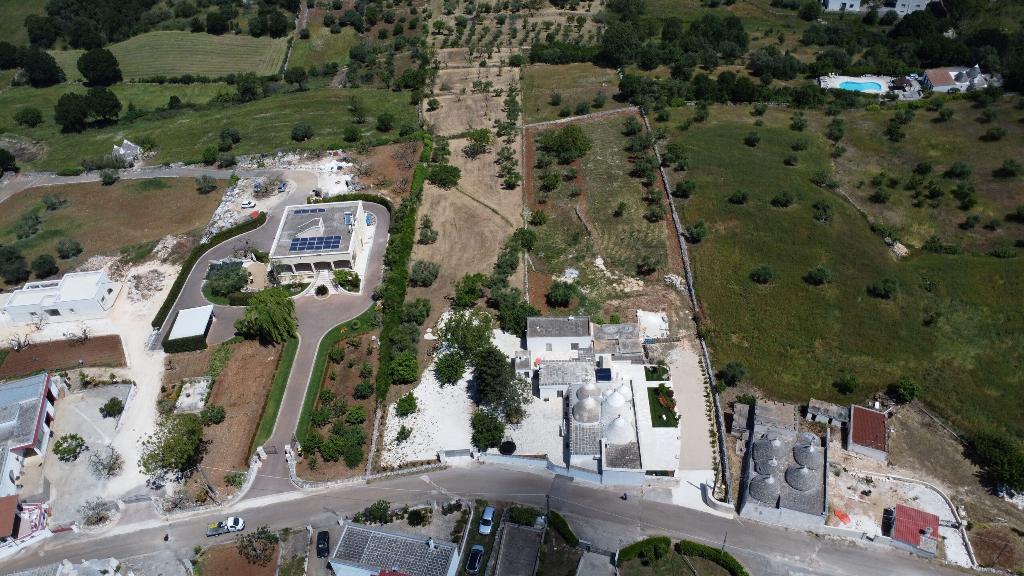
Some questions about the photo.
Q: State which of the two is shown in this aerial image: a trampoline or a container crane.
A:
trampoline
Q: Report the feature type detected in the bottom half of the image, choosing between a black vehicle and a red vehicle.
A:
black vehicle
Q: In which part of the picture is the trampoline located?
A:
bottom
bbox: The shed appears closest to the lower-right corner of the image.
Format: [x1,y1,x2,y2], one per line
[885,504,939,570]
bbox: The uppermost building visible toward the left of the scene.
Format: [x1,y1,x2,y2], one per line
[110,138,143,166]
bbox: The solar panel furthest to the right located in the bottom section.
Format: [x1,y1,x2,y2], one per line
[595,365,614,383]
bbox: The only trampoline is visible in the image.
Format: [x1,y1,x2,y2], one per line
[495,432,521,456]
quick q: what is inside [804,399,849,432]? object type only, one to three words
shed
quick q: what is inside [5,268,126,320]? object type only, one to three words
house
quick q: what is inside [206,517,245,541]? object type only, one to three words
truck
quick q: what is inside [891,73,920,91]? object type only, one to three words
gazebo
